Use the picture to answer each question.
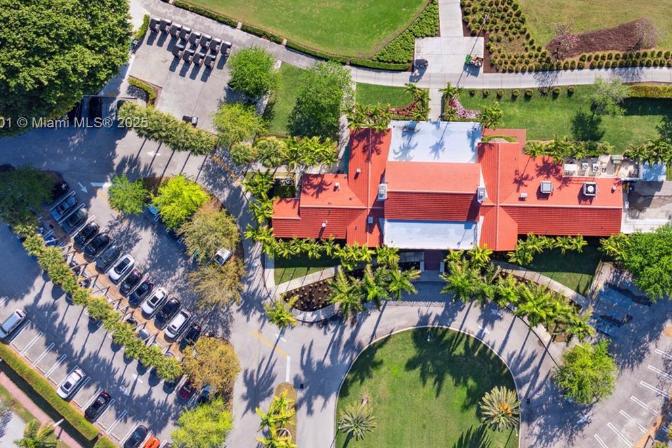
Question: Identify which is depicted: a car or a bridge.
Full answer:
The one in the frame is a car.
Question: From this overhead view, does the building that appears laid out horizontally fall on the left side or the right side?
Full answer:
The building that appears laid out horizontally is on the right side of the image.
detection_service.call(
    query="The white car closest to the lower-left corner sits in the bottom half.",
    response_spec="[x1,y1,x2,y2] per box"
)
[58,368,88,398]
